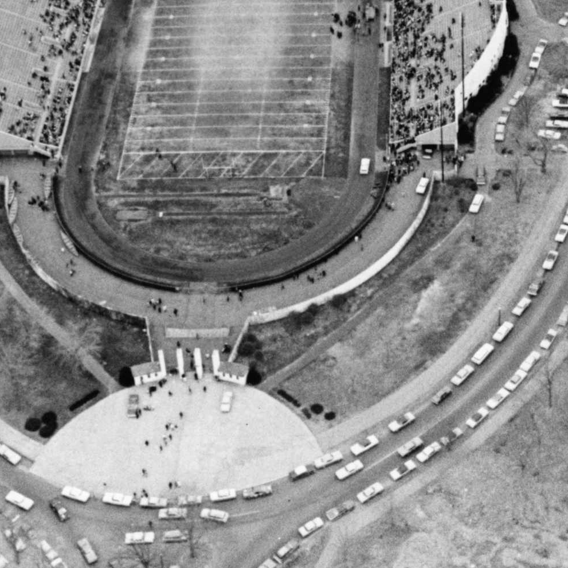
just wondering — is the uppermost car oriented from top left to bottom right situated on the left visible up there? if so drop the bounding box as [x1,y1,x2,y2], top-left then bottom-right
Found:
[0,446,21,465]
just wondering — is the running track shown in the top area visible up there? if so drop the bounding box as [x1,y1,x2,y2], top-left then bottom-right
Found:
[64,0,385,286]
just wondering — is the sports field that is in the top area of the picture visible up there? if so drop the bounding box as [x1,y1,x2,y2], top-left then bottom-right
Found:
[117,0,339,180]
